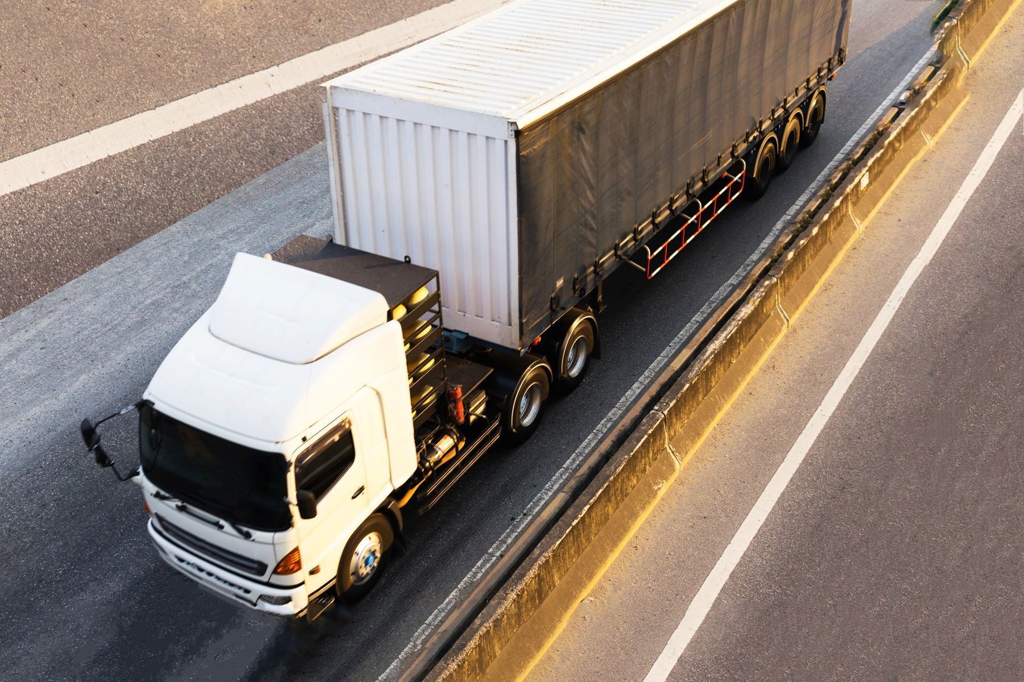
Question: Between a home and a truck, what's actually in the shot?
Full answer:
Of the two, only a truck appears.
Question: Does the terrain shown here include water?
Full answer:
No, there's no water in this view.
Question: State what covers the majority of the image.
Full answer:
The largest share of the image is taken up by paved ground.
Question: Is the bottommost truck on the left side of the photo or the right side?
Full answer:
The bottommost truck sits on the left side.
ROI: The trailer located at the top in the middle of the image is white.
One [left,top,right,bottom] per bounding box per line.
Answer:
[323,0,852,359]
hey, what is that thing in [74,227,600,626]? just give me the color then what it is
white truck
